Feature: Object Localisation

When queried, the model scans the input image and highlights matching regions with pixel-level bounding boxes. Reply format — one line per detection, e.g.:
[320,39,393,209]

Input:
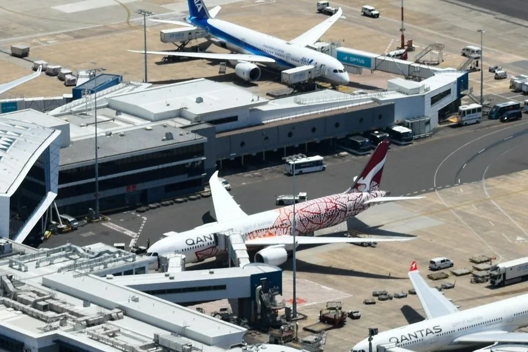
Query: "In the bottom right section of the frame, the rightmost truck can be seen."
[489,257,528,283]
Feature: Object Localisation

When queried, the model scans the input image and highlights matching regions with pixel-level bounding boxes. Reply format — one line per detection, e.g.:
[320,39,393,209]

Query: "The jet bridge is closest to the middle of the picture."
[213,230,254,268]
